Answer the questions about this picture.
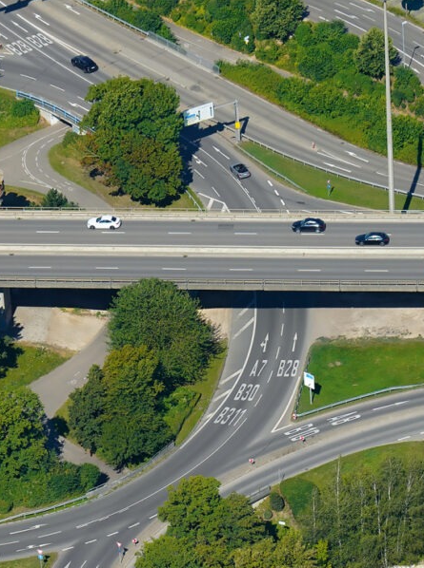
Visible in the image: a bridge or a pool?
bridge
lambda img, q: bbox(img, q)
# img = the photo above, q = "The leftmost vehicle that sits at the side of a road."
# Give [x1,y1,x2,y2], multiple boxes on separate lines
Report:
[72,55,98,73]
